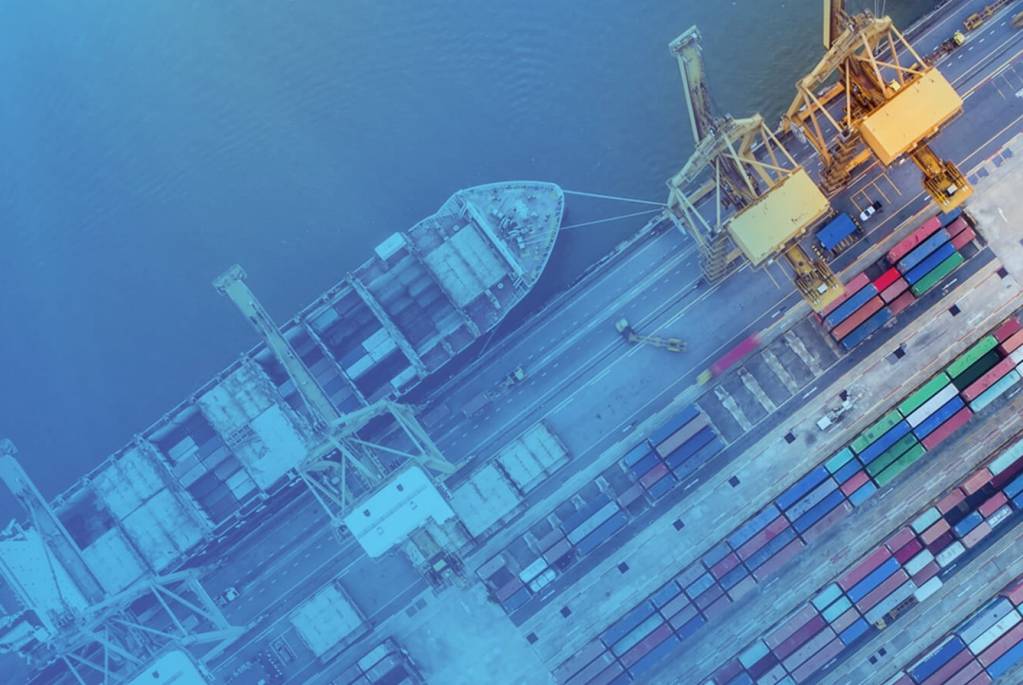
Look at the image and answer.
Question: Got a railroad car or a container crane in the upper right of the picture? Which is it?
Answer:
container crane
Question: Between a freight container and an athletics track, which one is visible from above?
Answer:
freight container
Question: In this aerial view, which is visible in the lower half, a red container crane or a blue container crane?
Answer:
blue container crane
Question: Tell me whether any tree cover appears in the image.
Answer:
No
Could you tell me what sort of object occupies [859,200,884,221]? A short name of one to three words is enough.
vehicle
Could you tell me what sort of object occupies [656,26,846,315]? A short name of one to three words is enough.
container crane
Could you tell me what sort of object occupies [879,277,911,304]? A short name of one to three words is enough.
shipping container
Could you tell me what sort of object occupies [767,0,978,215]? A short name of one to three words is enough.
container crane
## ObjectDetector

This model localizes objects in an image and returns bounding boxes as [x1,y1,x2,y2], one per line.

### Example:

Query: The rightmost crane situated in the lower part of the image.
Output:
[212,260,474,589]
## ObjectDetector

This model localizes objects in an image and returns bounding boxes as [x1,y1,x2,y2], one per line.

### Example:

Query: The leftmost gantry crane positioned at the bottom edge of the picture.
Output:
[0,432,270,685]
